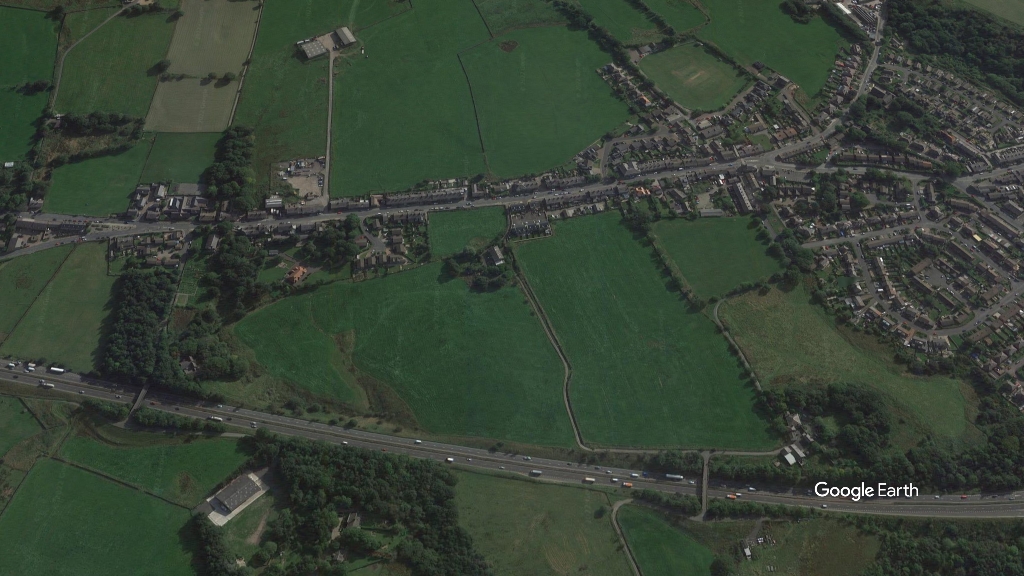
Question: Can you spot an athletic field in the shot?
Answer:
Yes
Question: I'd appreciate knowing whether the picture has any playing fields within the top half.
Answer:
Yes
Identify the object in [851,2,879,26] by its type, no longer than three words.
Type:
building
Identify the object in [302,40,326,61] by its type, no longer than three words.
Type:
barn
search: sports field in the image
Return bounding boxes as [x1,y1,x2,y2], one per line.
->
[641,41,748,112]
